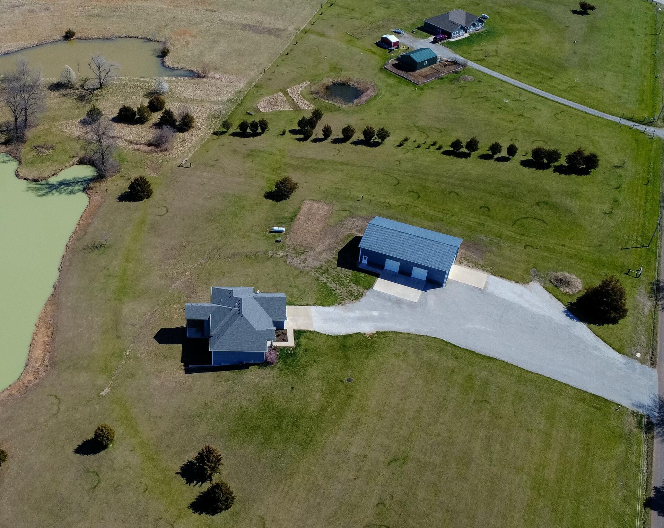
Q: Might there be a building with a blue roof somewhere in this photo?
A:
Yes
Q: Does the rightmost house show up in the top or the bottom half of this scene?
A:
top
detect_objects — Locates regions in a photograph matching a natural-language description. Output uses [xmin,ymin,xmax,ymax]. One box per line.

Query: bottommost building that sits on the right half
[358,215,465,287]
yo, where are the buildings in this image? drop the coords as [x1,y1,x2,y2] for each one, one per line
[422,9,487,39]
[358,215,465,287]
[381,32,400,47]
[399,46,437,70]
[185,283,288,365]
